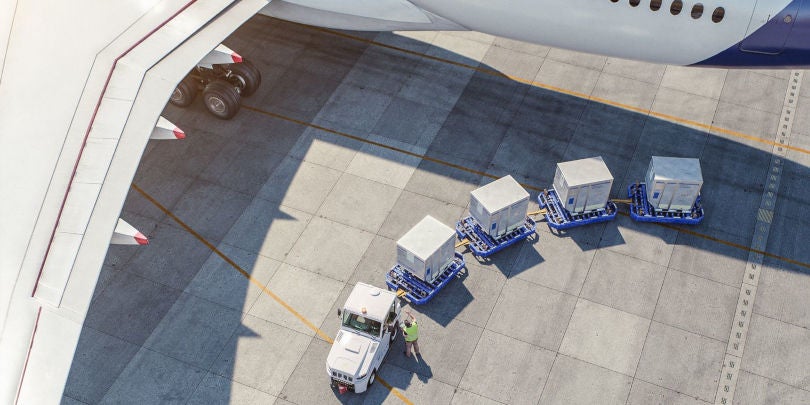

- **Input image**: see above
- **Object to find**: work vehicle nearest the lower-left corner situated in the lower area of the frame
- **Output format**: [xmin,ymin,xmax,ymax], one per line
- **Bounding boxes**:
[324,282,400,396]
